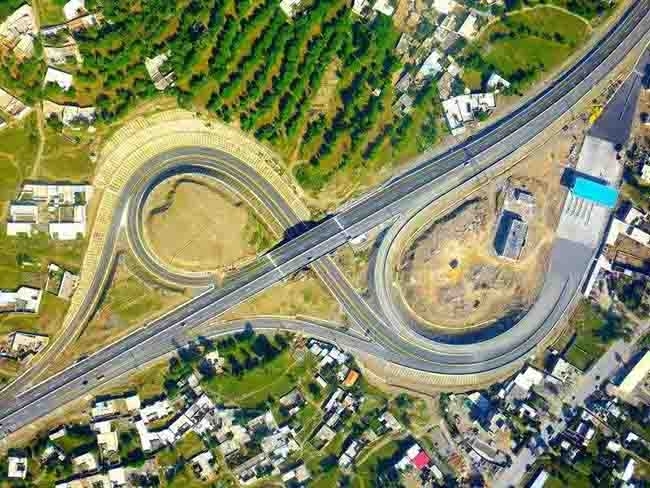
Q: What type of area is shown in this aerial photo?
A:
residential area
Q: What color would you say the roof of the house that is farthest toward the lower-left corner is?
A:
white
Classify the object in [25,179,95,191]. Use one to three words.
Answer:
house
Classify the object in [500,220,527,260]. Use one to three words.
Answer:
building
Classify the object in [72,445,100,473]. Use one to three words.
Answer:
house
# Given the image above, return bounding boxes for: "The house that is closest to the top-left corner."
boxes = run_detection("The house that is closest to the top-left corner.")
[1,3,37,41]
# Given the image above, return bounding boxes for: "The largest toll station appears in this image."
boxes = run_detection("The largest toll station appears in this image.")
[556,136,621,249]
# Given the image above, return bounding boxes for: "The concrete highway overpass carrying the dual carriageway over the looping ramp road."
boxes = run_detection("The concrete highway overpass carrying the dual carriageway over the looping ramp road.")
[260,213,358,282]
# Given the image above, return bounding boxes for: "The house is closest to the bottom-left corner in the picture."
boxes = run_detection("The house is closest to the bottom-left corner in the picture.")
[7,455,30,477]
